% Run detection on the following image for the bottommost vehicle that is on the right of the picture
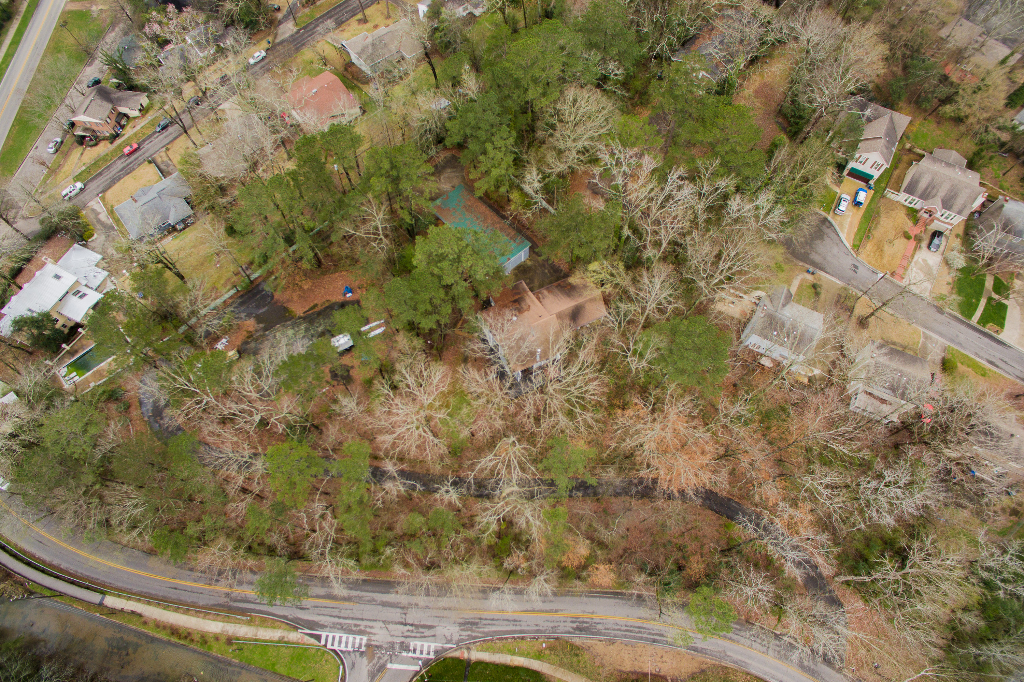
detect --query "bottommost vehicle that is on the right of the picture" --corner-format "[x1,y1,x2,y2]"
[929,231,942,251]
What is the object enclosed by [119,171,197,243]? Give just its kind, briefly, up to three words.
house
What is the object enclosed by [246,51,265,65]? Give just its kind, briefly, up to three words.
car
